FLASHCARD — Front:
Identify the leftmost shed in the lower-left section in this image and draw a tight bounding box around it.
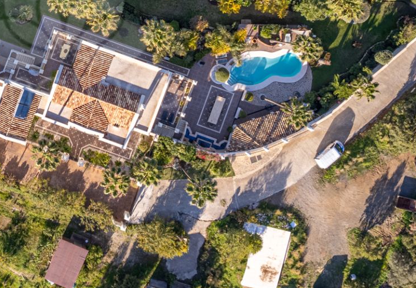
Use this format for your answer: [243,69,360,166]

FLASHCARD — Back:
[45,233,89,288]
